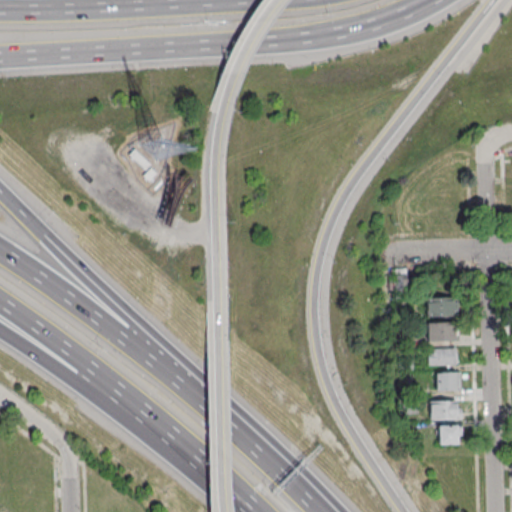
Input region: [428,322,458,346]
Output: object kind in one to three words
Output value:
house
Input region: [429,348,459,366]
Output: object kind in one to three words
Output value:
house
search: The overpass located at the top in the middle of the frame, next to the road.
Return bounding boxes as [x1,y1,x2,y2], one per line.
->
[211,0,292,111]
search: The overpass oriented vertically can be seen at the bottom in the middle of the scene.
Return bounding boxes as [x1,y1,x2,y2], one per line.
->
[208,314,234,512]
